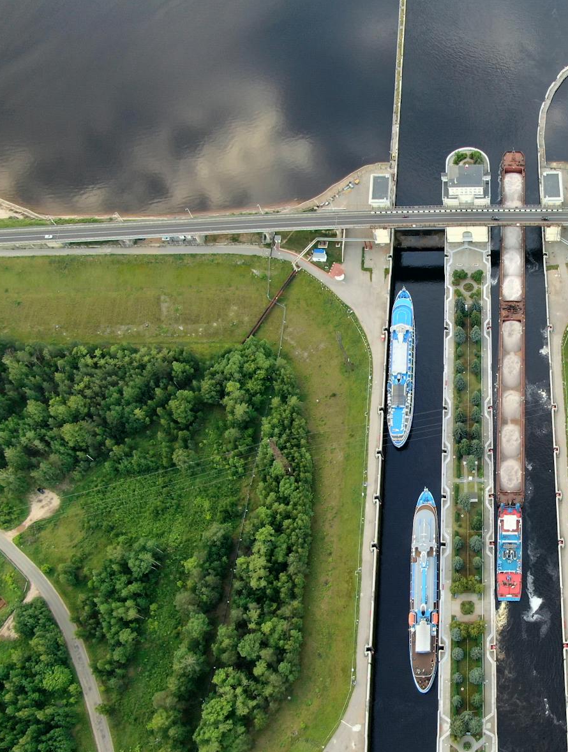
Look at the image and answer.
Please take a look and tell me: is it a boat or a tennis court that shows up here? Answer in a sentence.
Looking from above, you can make out a boat.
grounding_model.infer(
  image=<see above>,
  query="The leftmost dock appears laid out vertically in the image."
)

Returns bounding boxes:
[391,0,404,172]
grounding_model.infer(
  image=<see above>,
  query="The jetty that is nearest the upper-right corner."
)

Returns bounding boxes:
[539,63,568,173]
